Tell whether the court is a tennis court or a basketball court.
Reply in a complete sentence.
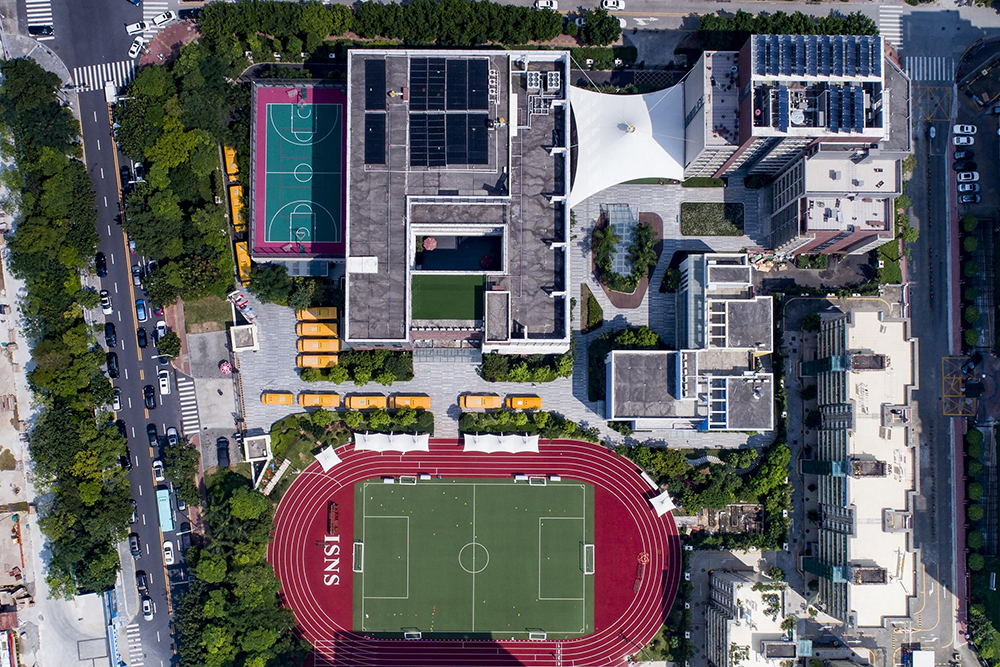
The court appears to be a basketball court.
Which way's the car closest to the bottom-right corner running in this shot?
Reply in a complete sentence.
From this overhead view, the car closest to the bottom-right corner appears to run on a diagonal.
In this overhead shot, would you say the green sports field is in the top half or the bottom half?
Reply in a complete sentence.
The bottom half of the photo is where the green sports field is.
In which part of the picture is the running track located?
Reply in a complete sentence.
The running track appears toward the bottom of the photo.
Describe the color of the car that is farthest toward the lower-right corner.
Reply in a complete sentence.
The car that is farthest toward the lower-right corner looks black in the image.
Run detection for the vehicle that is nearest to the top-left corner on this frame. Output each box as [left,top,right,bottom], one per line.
[29,24,54,37]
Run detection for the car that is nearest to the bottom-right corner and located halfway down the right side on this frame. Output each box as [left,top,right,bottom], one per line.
[960,352,984,374]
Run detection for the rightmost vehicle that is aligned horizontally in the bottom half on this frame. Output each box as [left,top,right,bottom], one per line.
[509,395,540,410]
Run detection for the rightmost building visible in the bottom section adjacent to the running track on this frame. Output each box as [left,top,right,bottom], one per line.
[800,308,920,629]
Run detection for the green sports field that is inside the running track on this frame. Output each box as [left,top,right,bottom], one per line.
[354,478,594,640]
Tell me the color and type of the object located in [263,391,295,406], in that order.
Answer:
orange vehicle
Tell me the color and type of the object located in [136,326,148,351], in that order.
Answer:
black vehicle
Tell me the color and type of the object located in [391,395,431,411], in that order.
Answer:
orange vehicle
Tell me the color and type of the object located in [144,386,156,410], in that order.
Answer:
black vehicle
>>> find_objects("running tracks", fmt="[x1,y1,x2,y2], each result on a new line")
[268,440,681,667]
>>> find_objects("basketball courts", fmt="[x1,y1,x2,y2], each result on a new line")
[251,84,347,261]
